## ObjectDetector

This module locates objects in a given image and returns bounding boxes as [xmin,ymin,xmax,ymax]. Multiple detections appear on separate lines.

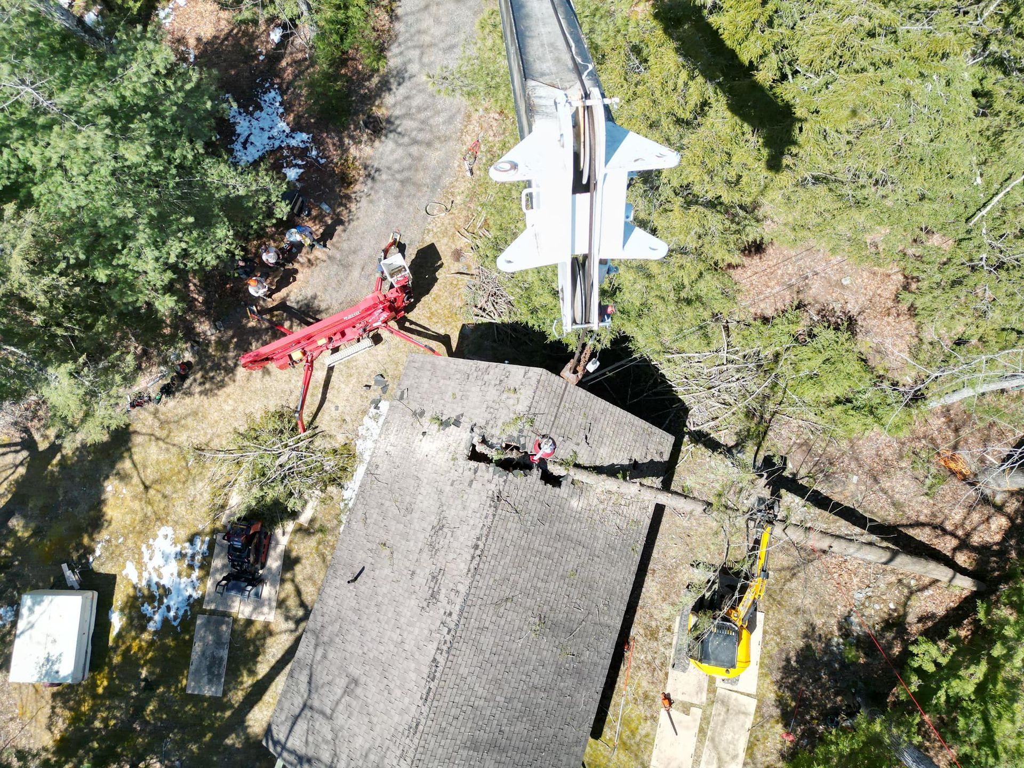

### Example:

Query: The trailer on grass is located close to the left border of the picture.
[9,554,100,683]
